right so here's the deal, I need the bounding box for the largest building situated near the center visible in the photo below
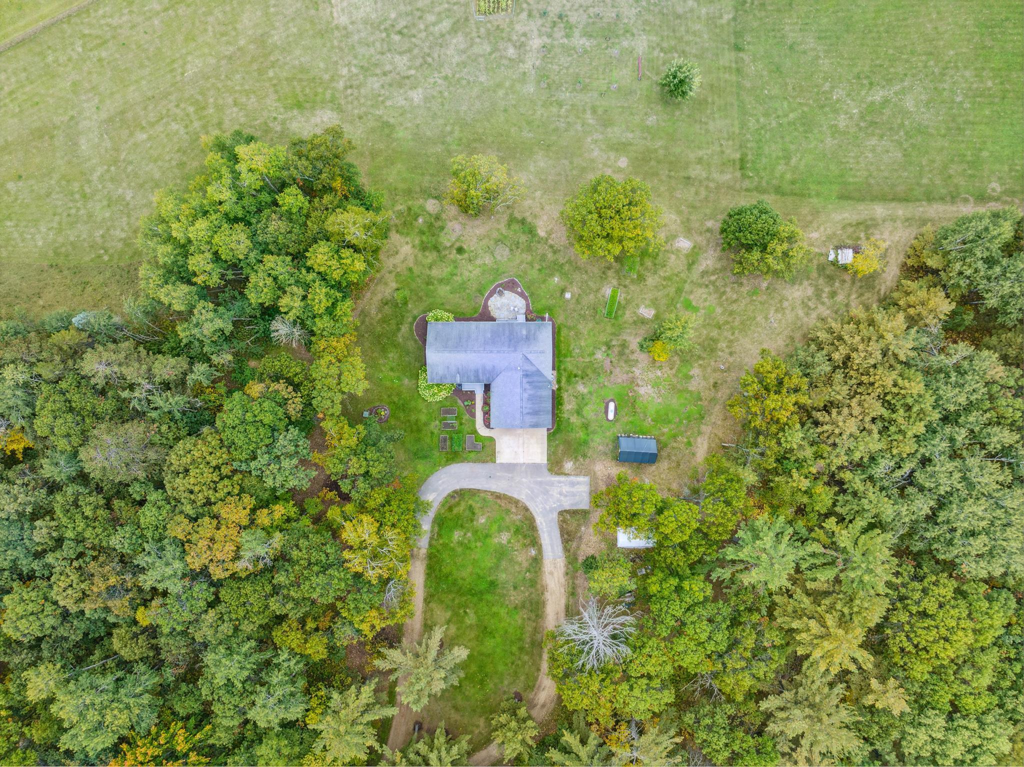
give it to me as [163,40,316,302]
[425,313,555,430]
